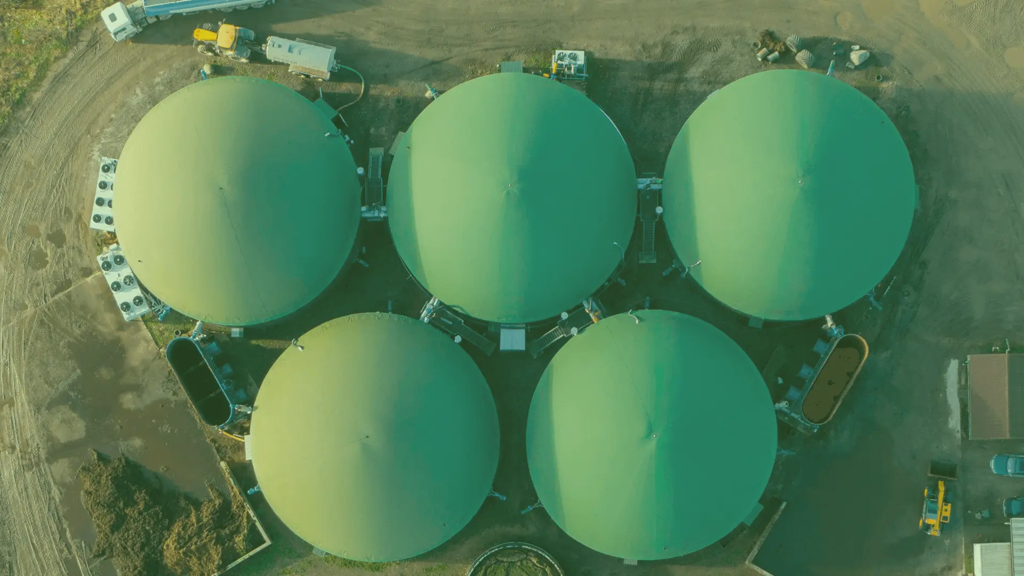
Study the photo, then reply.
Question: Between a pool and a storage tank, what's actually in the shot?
storage tank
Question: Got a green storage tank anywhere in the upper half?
Yes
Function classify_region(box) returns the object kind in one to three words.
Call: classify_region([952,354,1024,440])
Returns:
shed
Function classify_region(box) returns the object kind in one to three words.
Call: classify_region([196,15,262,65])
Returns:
work vehicle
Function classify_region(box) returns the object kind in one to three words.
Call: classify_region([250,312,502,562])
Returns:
storage tank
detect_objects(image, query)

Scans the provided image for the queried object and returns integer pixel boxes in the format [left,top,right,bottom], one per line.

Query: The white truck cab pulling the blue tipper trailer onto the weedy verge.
[99,0,174,48]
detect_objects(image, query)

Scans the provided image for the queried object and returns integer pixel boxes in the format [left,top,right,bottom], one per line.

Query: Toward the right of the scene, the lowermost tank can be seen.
[526,309,777,561]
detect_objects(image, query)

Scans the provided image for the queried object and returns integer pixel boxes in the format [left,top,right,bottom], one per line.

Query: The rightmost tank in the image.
[659,69,915,326]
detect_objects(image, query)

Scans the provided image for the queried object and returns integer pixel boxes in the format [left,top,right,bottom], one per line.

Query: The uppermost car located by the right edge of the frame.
[988,453,1024,478]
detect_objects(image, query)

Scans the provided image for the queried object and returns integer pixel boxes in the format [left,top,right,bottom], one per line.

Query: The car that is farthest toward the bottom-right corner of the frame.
[1001,494,1024,518]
